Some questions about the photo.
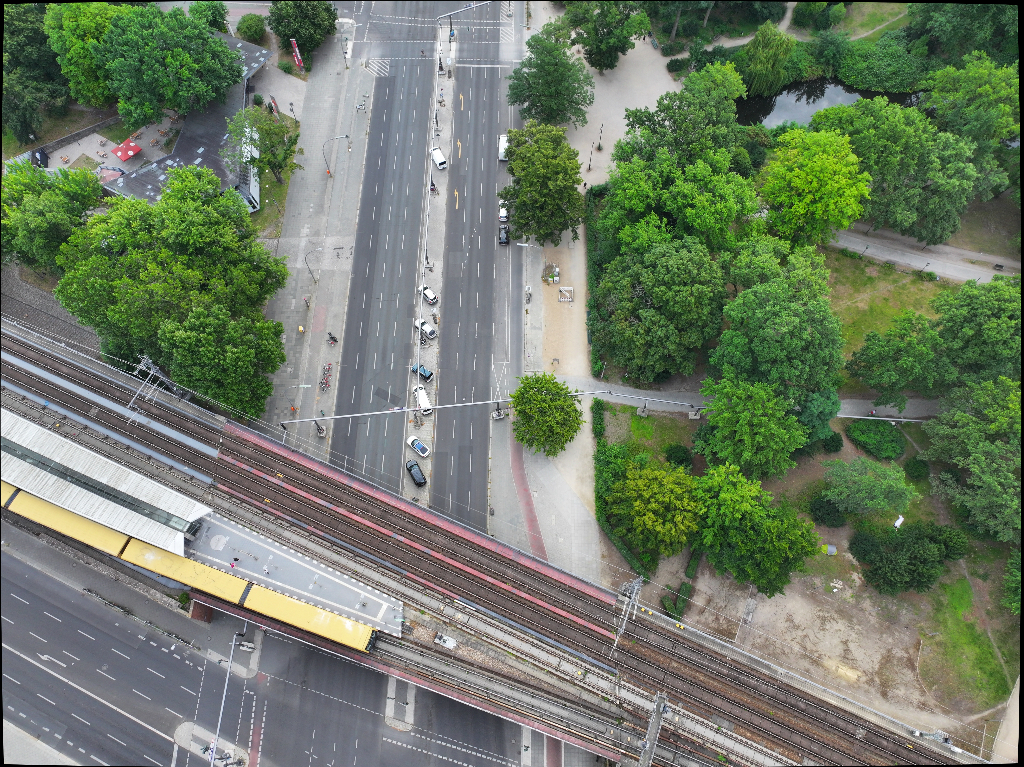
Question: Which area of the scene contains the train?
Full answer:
You can find the train in the bottom left area of the picture.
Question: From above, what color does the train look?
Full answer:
The train looks yellow in the image.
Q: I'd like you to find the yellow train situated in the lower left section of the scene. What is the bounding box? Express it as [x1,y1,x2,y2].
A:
[0,481,381,655]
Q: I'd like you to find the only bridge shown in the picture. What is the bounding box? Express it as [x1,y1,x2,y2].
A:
[0,316,999,767]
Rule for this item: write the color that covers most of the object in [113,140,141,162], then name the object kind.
red umbrella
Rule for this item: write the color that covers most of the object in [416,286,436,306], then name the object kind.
white car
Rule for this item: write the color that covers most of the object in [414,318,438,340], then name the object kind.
white car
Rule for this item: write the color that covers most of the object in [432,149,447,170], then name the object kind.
white vehicle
